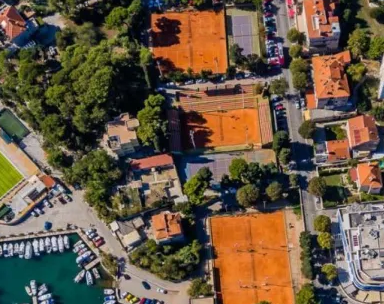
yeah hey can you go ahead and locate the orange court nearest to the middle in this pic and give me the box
[181,109,261,151]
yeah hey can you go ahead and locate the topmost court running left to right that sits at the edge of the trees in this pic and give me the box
[151,10,225,44]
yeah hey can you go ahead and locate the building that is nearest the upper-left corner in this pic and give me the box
[0,5,31,49]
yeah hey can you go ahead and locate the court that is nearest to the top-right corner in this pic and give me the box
[226,7,265,68]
